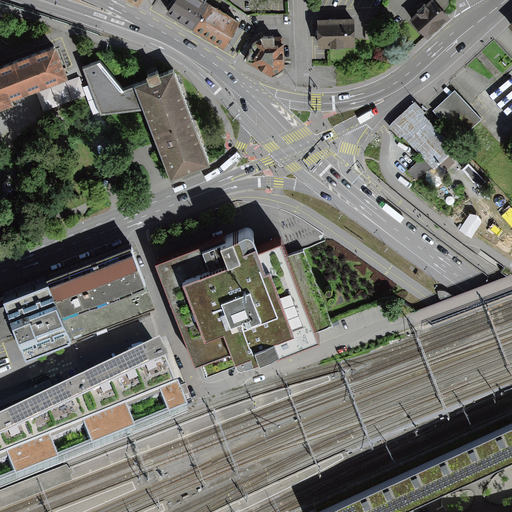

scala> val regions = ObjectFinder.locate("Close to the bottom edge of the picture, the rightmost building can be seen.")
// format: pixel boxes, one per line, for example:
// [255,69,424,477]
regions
[317,421,512,512]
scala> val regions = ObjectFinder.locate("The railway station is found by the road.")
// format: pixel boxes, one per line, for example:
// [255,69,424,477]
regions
[0,376,344,512]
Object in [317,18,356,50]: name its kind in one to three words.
house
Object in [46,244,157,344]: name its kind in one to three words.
building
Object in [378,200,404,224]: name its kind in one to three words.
truck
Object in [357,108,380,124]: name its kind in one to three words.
vehicle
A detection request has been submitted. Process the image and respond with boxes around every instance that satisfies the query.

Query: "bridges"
[398,270,512,327]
